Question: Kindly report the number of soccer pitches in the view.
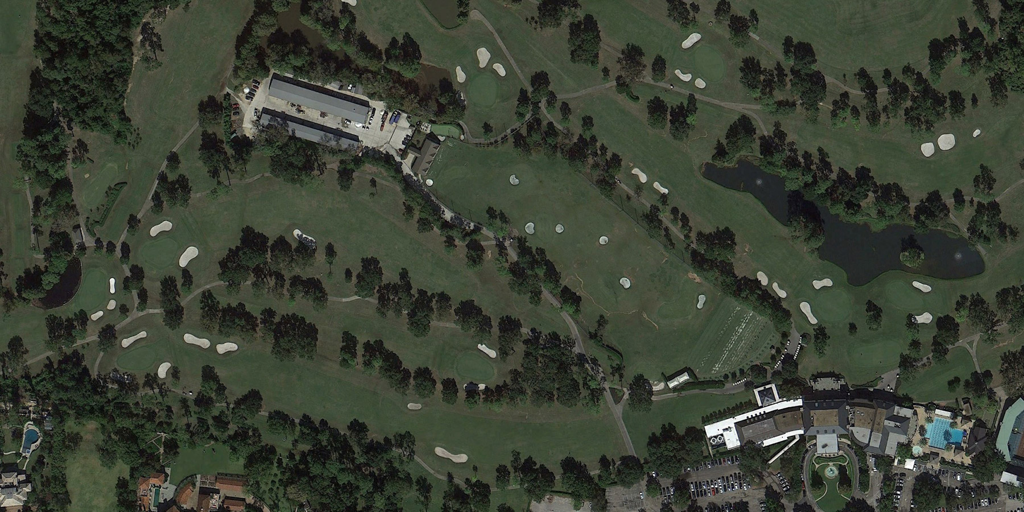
none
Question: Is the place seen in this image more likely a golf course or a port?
golf course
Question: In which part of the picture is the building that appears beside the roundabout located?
bottom right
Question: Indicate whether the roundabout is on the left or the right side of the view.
right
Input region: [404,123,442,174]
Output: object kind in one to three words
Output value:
building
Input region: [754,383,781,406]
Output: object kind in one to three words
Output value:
building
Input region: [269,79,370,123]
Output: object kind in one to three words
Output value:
shed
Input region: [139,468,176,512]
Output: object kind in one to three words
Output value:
house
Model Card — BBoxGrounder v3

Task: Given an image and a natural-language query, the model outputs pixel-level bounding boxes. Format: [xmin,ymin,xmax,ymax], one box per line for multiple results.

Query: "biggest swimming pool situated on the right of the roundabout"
[924,417,963,449]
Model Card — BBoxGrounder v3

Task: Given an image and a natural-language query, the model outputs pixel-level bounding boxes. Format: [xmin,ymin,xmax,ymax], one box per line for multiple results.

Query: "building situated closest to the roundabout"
[705,377,918,463]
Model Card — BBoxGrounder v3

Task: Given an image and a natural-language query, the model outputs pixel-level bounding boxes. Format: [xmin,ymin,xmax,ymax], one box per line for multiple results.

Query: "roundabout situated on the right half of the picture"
[800,437,863,512]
